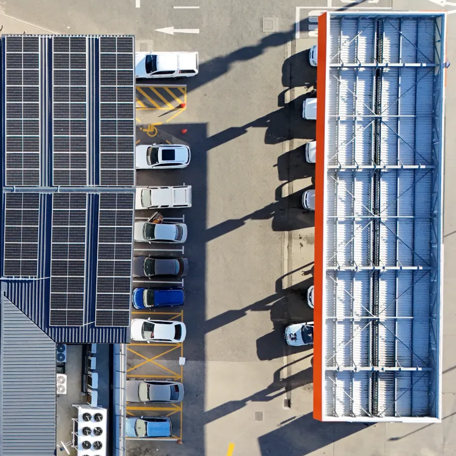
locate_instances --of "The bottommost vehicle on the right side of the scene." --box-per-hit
[282,319,311,348]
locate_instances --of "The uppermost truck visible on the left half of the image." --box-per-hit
[135,49,201,82]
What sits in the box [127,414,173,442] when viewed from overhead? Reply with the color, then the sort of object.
blue car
